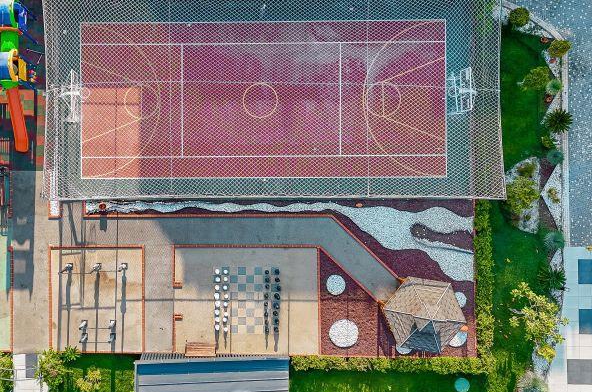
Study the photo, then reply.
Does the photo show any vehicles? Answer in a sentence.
No, I can't see a single vehicle in this photo.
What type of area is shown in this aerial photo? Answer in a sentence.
This image shows a sports ground.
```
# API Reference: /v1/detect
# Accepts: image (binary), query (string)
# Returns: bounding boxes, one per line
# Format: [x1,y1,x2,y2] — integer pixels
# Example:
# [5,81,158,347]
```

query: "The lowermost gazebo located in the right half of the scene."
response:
[378,277,466,354]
